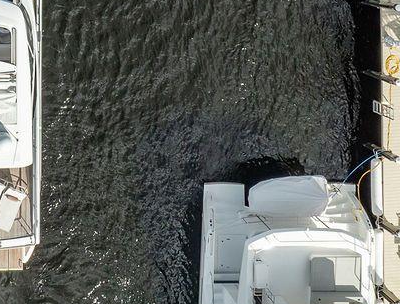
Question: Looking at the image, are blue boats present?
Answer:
No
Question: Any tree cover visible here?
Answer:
No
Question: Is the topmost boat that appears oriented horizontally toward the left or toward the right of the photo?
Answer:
right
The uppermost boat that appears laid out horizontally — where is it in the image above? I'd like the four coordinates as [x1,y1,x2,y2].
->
[246,173,342,216]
